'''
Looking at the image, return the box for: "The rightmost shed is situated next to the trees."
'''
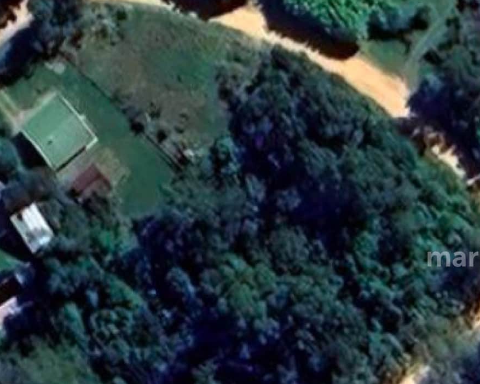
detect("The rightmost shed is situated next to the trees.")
[73,164,111,201]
